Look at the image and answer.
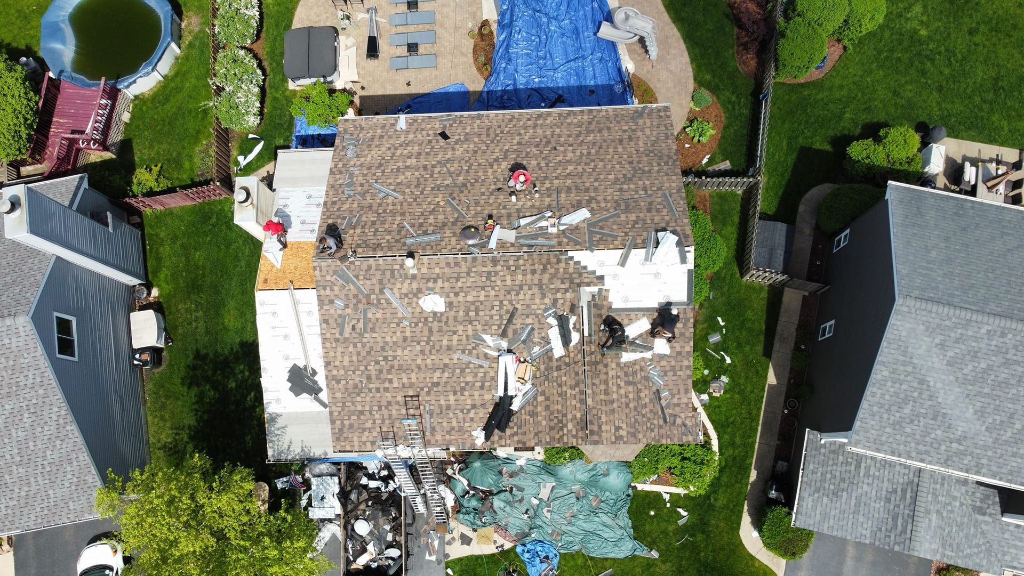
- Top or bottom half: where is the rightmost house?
bottom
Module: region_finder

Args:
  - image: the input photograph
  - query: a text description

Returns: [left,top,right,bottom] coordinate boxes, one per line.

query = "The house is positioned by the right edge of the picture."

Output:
[777,179,1024,576]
